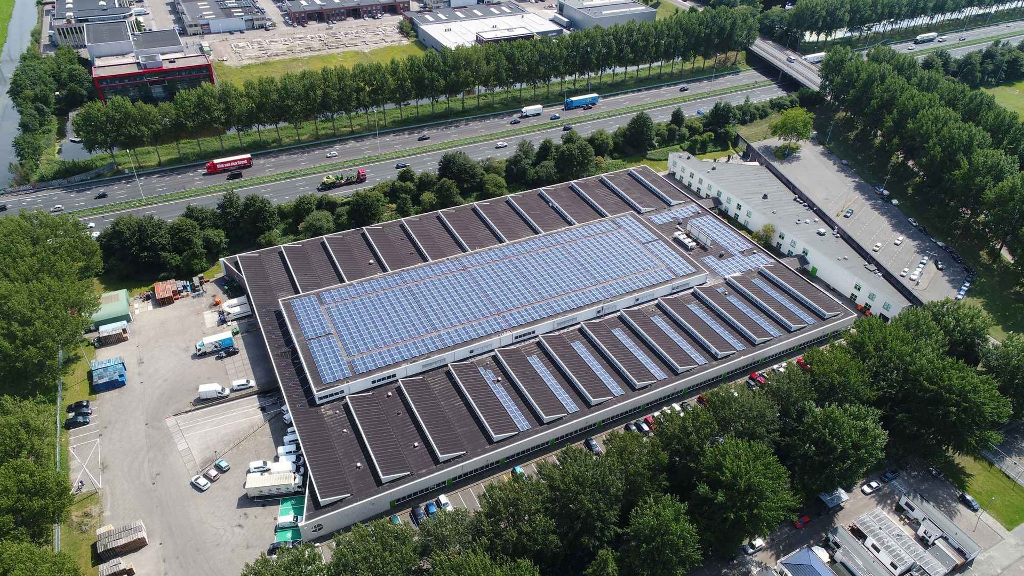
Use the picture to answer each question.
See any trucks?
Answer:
Yes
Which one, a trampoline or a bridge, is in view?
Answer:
bridge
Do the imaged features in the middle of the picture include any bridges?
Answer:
No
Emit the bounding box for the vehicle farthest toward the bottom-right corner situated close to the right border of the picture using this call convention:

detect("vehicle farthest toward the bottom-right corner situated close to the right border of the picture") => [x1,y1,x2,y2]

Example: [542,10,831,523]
[957,492,979,511]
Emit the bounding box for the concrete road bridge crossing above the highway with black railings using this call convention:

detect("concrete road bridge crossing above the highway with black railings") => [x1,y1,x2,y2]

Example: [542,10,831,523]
[745,32,829,93]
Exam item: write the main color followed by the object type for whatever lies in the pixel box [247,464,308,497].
white truck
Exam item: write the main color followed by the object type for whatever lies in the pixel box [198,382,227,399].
white vehicle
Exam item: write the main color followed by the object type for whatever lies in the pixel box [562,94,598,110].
blue vehicle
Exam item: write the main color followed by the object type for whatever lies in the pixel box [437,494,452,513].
white car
